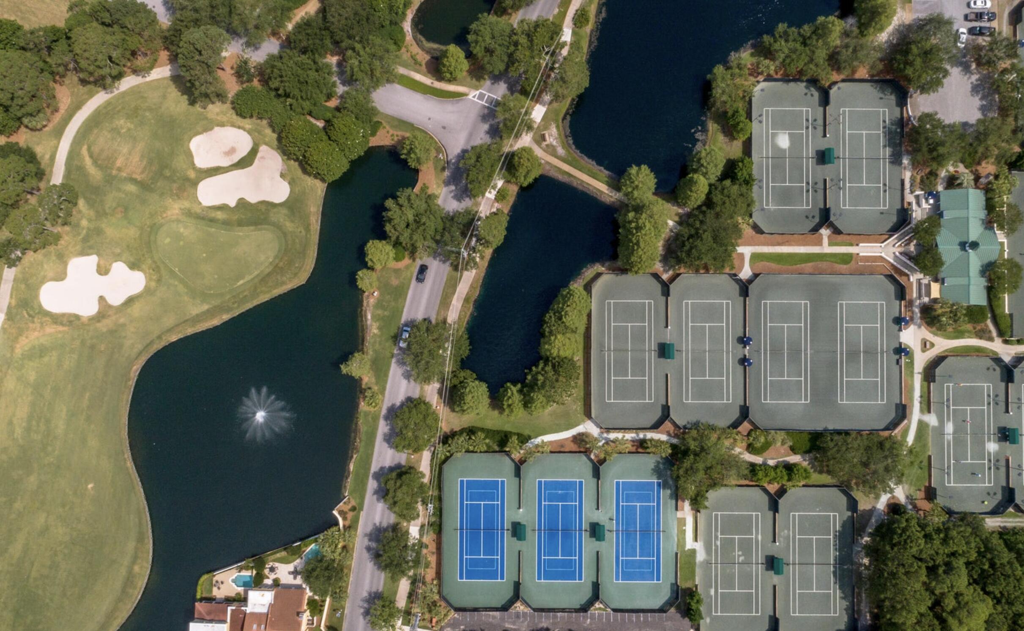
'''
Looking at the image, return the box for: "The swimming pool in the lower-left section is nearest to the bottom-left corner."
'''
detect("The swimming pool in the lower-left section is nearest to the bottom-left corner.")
[229,573,250,589]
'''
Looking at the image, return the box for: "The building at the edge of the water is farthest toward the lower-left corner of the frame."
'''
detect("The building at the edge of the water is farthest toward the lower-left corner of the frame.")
[189,581,312,631]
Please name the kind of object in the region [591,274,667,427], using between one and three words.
tennis court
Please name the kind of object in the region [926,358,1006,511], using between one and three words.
tennis court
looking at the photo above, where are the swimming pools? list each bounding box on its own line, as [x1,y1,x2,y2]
[229,573,250,589]
[301,542,324,564]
